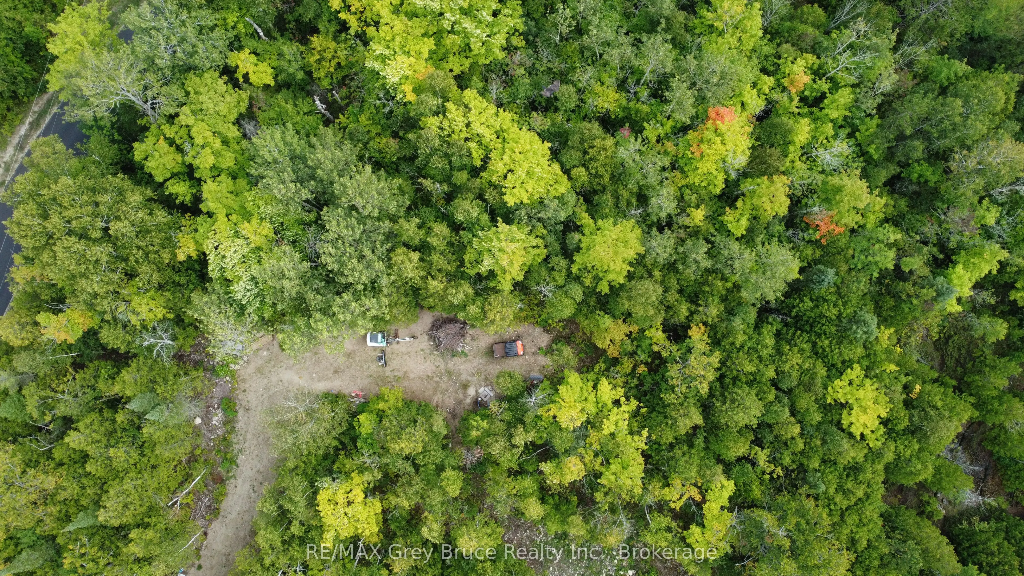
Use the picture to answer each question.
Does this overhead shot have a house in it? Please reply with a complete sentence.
No, there isn't any house down there.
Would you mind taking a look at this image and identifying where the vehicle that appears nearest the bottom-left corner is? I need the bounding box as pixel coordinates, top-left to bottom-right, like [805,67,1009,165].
[368,329,414,346]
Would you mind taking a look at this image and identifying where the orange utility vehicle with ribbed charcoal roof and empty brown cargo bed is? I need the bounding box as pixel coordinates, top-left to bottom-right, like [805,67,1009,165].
[492,339,525,358]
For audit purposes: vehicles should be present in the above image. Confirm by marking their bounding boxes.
[492,339,525,358]
[368,329,414,346]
